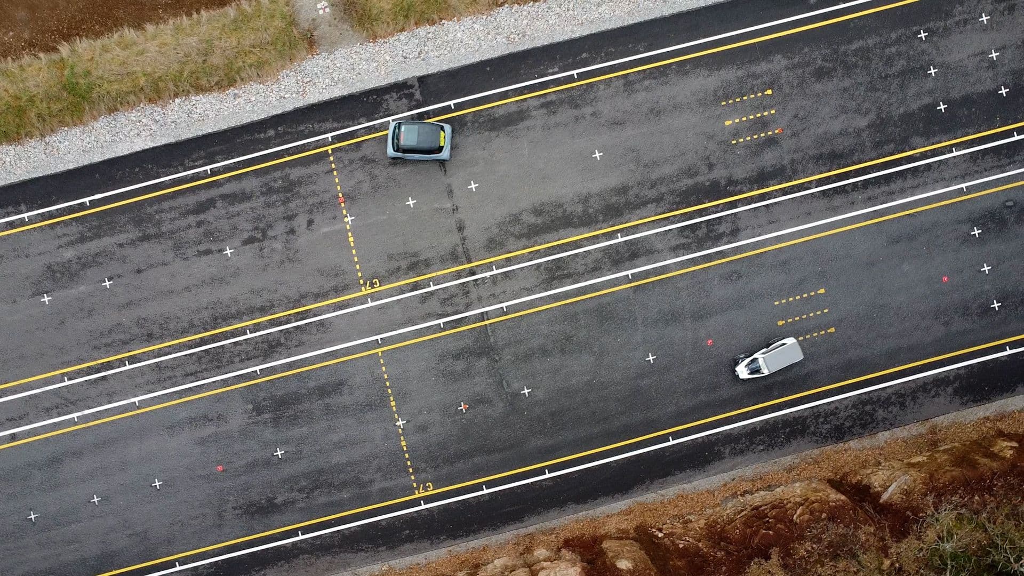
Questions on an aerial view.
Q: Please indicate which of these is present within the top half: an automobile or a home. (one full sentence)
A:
You can see an automobile within the top half.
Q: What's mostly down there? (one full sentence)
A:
For the most part, this view shows paved ground.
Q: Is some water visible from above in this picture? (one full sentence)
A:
No, water can't be seen anywhere here.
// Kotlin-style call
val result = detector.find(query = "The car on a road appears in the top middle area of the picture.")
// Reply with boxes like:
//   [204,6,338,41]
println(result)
[387,120,452,161]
